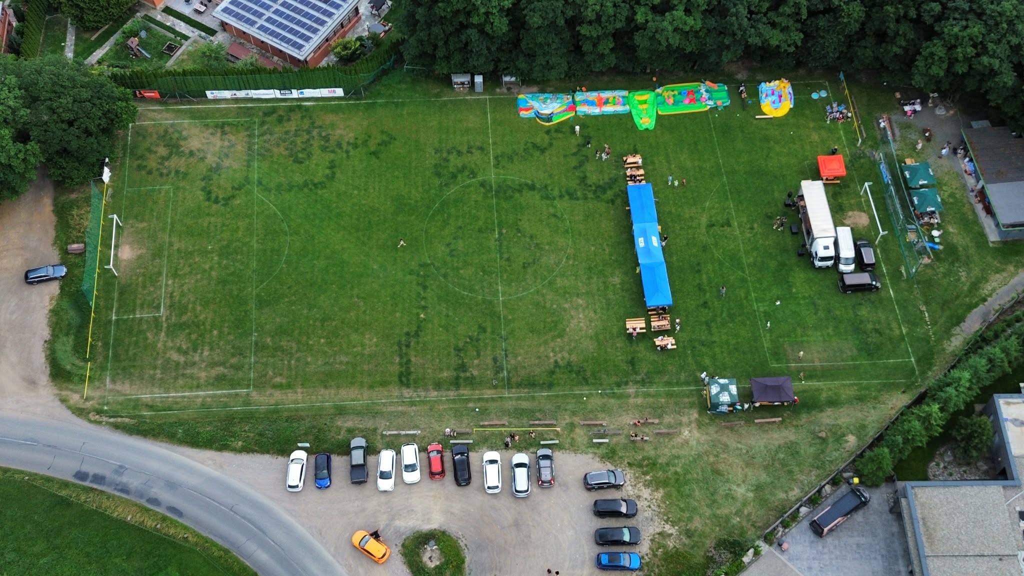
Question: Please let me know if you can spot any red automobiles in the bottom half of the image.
Yes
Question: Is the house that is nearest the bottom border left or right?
right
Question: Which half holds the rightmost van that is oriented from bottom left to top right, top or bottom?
bottom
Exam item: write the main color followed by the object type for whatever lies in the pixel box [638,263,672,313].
blue tent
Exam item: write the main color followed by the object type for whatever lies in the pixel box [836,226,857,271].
white vehicle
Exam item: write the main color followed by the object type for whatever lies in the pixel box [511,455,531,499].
white car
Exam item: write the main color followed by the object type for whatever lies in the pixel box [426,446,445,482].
red car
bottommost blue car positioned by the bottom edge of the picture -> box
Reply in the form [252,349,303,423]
[597,551,641,573]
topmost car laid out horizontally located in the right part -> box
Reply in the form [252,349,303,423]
[838,274,879,294]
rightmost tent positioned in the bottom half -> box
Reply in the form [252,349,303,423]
[748,378,794,411]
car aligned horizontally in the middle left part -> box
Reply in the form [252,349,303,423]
[25,266,68,286]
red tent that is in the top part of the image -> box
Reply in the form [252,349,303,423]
[814,156,846,186]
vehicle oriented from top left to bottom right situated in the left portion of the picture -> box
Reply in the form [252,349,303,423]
[352,533,391,564]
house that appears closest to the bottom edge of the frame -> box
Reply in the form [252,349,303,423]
[893,481,1024,576]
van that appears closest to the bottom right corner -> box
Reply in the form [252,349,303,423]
[810,489,869,539]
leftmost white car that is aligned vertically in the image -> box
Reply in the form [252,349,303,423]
[287,452,308,494]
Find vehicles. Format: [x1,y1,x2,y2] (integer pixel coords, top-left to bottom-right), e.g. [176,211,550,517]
[810,489,869,539]
[595,526,641,548]
[838,274,879,294]
[25,266,68,286]
[352,533,391,564]
[451,446,471,488]
[426,446,445,482]
[597,551,641,573]
[314,454,333,491]
[400,444,420,486]
[348,440,368,487]
[287,452,308,494]
[593,499,638,520]
[583,469,625,492]
[856,242,875,273]
[535,450,555,490]
[511,455,531,499]
[798,181,838,269]
[836,226,857,271]
[375,451,396,492]
[482,453,502,495]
